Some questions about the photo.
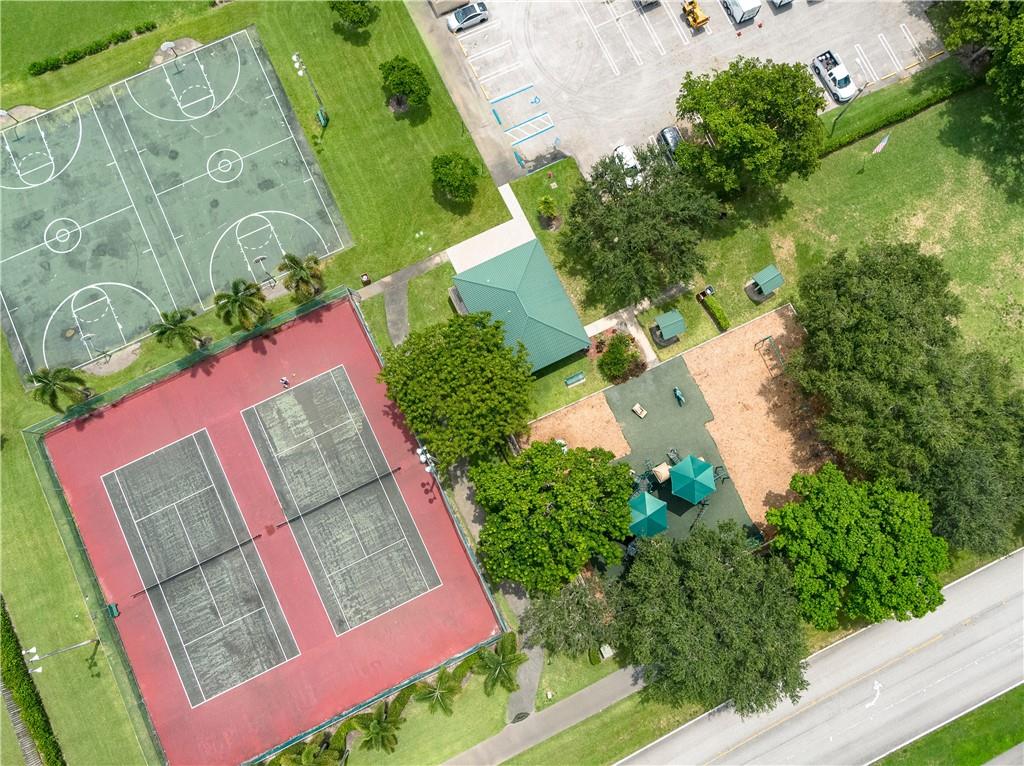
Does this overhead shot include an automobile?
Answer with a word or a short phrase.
Yes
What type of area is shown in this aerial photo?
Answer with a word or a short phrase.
sports ground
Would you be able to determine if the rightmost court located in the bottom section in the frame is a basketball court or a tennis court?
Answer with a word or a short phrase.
tennis court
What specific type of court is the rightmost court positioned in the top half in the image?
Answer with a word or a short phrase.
basketball court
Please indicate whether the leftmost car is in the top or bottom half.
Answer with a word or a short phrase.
top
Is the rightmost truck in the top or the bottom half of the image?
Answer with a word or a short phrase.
top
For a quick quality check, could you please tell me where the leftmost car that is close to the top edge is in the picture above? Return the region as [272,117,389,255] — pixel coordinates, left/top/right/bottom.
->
[447,1,489,32]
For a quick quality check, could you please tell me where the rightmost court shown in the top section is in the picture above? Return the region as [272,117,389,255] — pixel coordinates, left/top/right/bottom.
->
[97,23,355,318]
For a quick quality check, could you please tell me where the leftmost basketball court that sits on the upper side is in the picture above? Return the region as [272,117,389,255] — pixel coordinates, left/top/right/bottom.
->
[0,89,190,392]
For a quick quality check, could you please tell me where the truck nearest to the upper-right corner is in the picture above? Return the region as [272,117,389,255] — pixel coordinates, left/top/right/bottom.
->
[814,49,857,102]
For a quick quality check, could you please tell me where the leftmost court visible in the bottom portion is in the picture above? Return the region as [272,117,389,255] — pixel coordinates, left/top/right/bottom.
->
[43,366,335,766]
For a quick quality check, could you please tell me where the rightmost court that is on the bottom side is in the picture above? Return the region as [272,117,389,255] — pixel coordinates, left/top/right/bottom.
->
[191,296,500,716]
